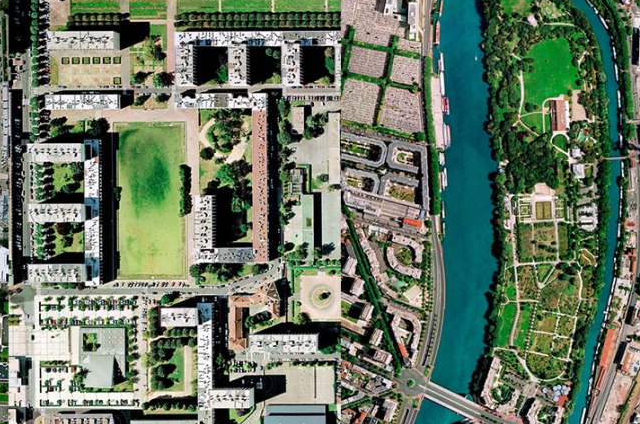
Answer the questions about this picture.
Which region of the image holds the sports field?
left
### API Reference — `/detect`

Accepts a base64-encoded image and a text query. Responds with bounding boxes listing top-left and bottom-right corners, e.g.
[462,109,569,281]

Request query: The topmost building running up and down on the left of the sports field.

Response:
[85,140,104,286]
